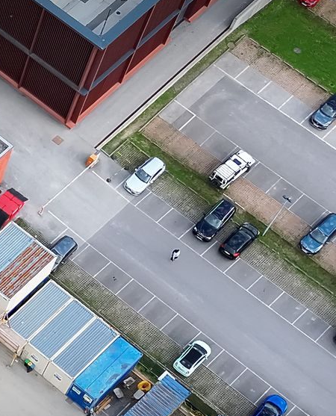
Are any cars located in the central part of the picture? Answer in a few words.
Yes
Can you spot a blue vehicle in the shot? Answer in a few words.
Yes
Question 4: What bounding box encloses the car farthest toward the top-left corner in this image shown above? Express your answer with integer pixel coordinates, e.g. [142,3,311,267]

[124,155,167,196]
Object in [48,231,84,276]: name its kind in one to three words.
car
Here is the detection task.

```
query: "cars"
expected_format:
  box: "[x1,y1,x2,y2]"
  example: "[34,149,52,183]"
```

[173,337,215,379]
[124,155,167,196]
[191,199,239,243]
[210,150,256,193]
[252,396,289,416]
[48,231,84,276]
[218,224,258,261]
[298,210,336,256]
[307,88,336,129]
